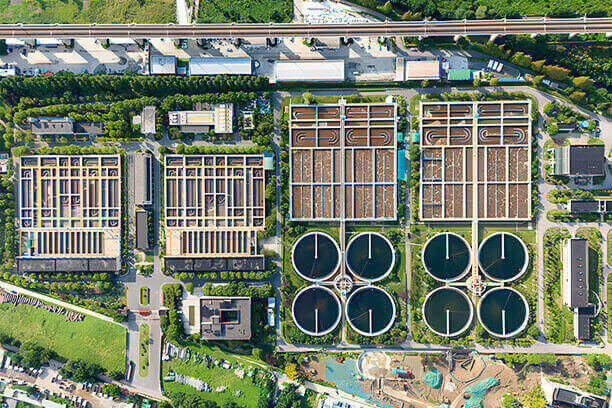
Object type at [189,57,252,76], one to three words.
shed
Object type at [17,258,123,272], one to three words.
house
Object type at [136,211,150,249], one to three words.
building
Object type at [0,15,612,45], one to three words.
bridge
